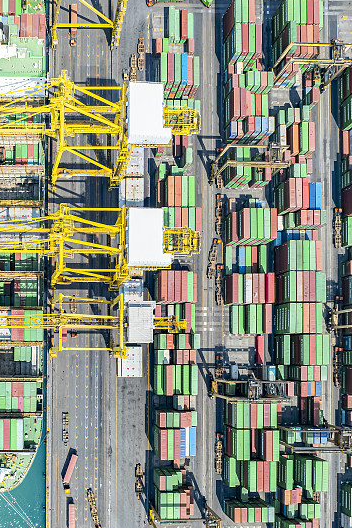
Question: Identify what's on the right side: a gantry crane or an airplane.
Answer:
gantry crane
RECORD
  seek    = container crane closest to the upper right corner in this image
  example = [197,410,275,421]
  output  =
[270,39,352,87]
